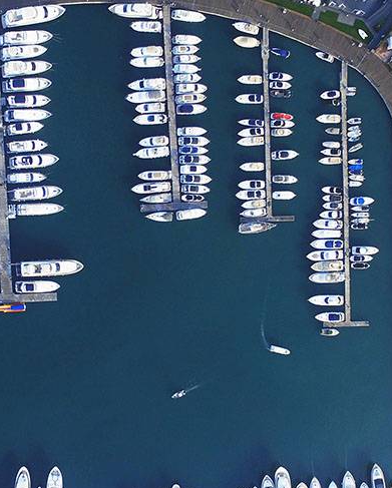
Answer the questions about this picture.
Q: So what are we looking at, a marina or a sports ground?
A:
marina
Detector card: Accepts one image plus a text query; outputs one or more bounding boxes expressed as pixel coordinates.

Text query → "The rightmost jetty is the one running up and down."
[322,60,369,328]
